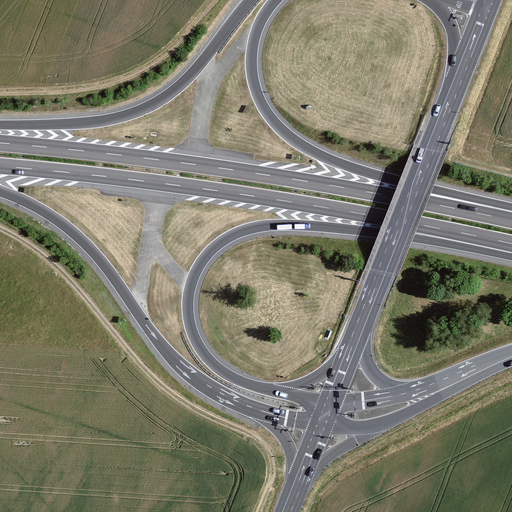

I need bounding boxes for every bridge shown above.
[364,144,447,274]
